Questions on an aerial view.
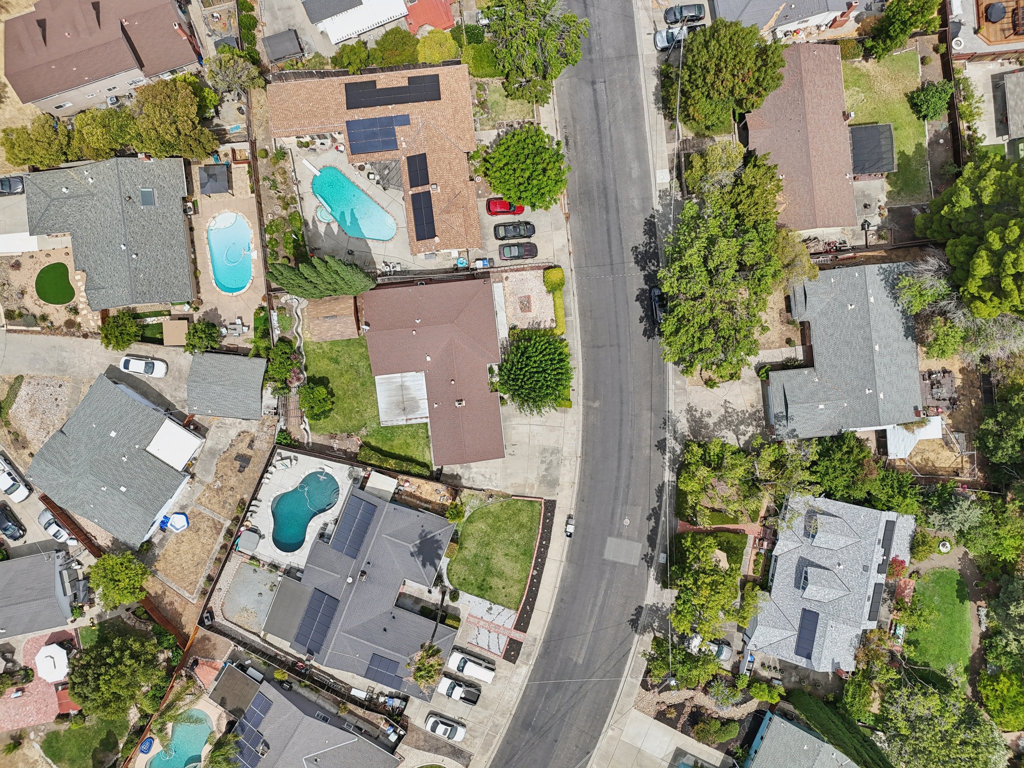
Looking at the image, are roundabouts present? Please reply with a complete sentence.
No, there is no roundabout in the image.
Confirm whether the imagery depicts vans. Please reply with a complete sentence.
Yes, there's a van down there.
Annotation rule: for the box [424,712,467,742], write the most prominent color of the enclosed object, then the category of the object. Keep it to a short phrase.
white car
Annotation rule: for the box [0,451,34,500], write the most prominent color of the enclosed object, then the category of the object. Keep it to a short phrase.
white car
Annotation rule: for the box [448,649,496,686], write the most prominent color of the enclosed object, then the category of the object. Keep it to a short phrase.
white van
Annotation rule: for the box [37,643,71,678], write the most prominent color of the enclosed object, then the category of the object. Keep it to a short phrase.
white umbrella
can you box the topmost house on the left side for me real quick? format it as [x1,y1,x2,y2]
[300,0,364,32]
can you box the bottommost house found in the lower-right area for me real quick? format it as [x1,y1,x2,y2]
[732,709,863,768]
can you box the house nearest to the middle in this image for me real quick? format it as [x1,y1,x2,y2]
[358,278,506,467]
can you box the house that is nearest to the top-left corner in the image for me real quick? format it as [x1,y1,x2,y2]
[4,0,211,116]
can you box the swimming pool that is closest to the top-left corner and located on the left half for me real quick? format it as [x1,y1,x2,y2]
[204,207,256,297]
